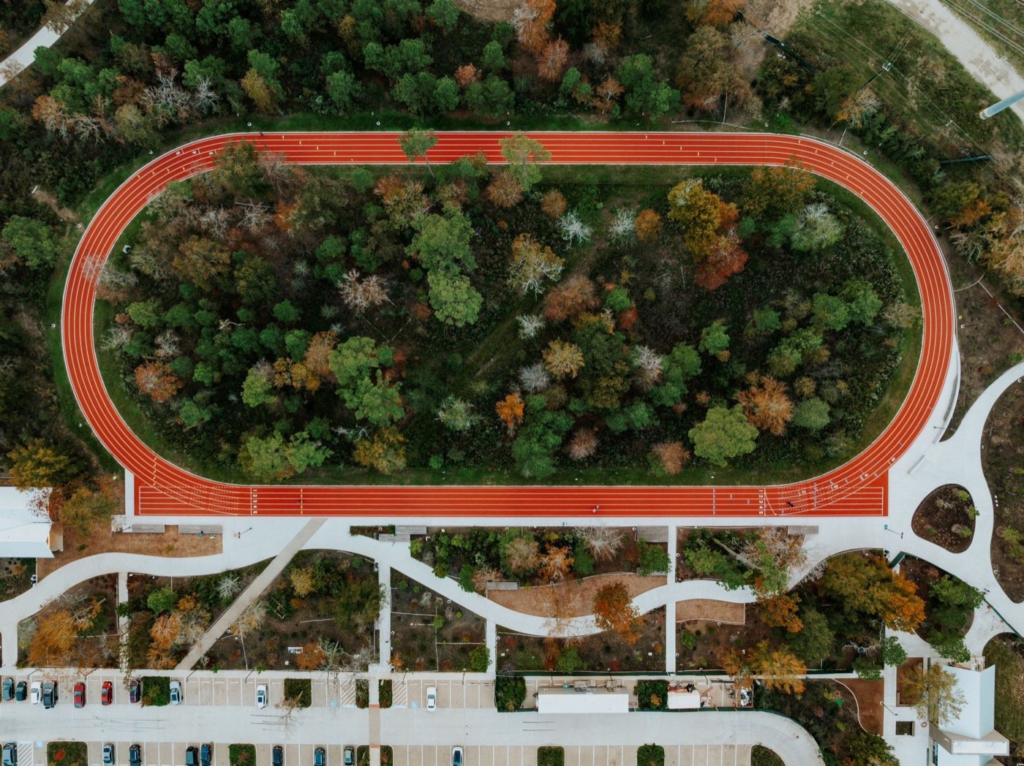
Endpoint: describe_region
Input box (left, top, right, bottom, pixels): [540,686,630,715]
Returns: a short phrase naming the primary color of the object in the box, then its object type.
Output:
white trailer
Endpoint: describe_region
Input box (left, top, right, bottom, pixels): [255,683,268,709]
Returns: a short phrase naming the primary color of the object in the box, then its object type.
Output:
white vehicle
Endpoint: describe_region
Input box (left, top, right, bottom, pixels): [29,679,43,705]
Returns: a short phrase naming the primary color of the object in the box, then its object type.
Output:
white car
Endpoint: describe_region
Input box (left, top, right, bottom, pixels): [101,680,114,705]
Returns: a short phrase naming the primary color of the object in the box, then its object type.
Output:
red vehicle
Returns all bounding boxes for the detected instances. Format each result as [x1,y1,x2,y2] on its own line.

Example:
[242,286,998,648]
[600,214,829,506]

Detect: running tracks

[60,131,956,517]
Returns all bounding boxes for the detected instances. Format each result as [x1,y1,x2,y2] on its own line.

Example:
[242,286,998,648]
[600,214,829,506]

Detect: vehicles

[169,680,182,703]
[187,745,199,766]
[255,683,268,709]
[128,744,142,766]
[200,743,212,766]
[29,679,43,705]
[101,680,114,705]
[15,680,29,703]
[272,744,284,766]
[426,686,437,712]
[314,746,326,766]
[103,743,116,766]
[128,678,142,703]
[42,680,57,710]
[343,745,355,766]
[1,676,16,701]
[3,743,18,766]
[74,682,86,707]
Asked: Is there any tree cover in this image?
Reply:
Yes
